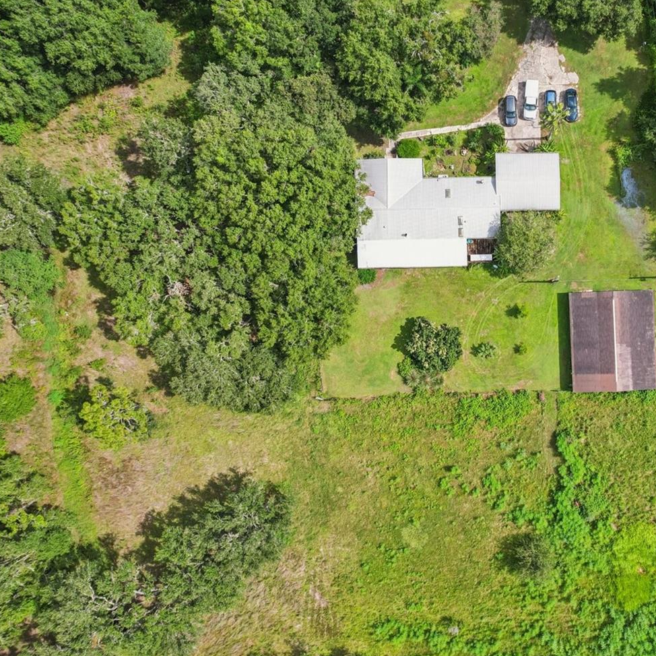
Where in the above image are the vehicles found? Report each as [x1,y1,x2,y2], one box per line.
[523,78,539,121]
[565,88,579,123]
[544,92,558,122]
[503,95,518,127]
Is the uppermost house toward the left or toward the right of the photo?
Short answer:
right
